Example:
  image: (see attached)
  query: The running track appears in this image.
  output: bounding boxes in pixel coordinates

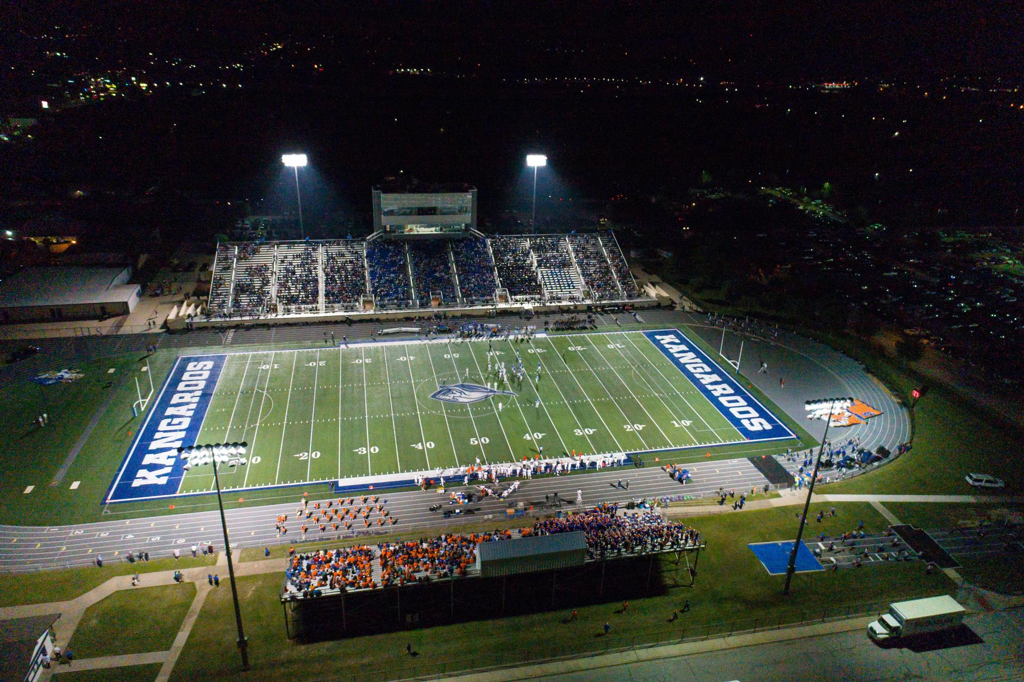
[0,311,915,576]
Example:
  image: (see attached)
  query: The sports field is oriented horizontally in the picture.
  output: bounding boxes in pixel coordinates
[67,324,822,523]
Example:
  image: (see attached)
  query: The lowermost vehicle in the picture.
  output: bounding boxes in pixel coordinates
[861,593,965,647]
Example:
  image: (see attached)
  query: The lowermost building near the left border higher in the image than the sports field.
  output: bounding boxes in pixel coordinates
[0,266,142,319]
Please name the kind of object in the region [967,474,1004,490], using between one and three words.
car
